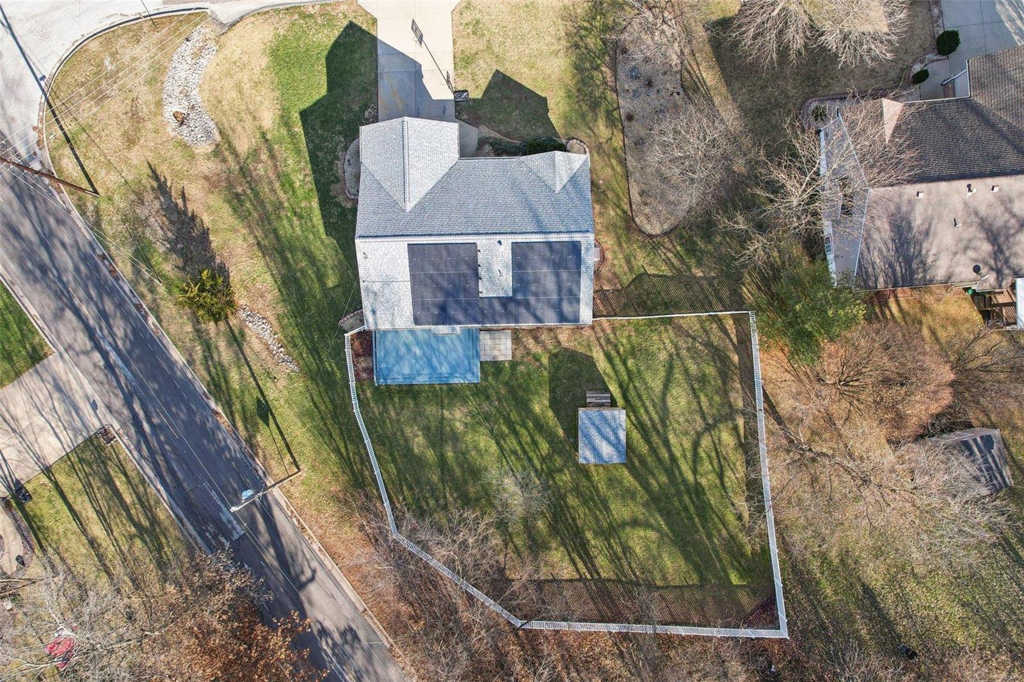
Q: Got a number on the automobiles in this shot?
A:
none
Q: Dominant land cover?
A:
grass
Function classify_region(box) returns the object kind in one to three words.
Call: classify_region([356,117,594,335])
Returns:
house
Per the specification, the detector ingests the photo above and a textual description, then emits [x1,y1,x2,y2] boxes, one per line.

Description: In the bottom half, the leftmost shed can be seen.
[577,391,626,464]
